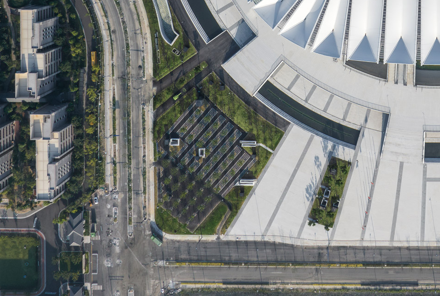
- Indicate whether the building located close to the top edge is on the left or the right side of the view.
left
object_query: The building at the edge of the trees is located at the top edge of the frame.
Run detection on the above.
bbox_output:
[14,4,63,100]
